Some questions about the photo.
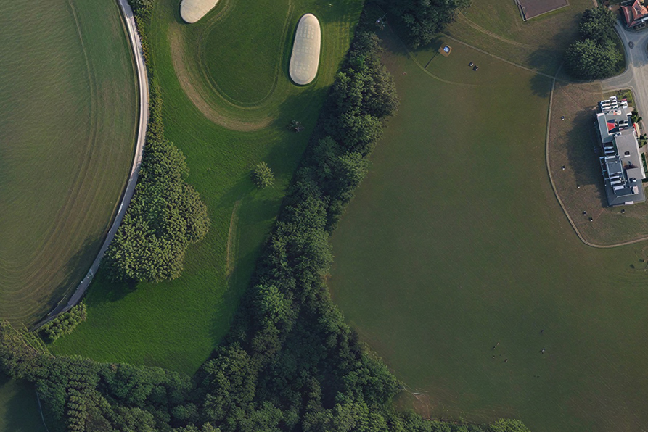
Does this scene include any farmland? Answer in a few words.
Yes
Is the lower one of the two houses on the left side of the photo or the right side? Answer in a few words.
right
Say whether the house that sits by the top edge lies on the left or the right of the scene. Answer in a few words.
right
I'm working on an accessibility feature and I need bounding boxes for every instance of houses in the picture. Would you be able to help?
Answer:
[620,0,648,29]
[594,107,647,206]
